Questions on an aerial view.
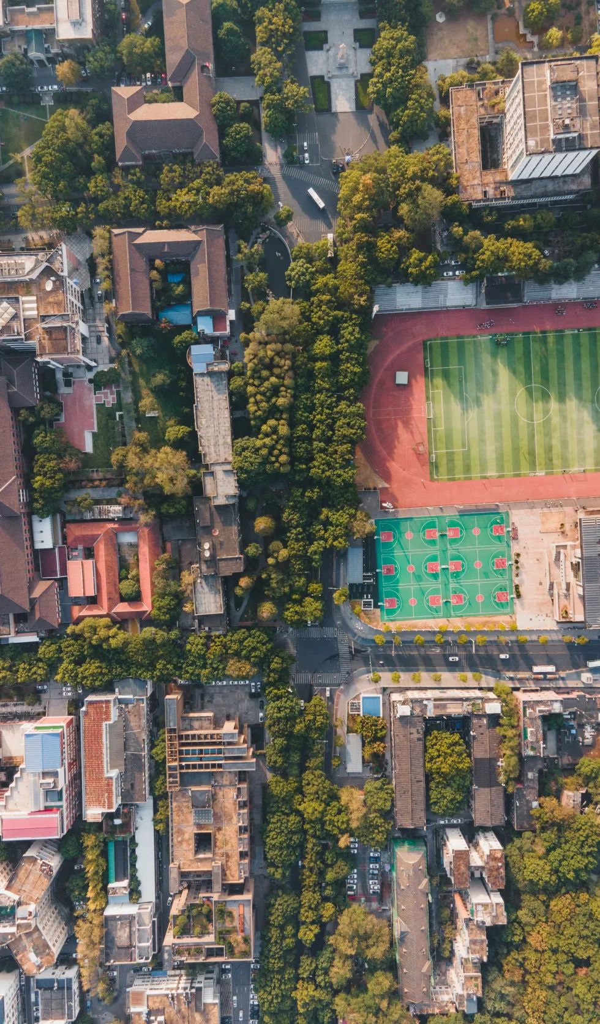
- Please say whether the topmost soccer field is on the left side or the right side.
right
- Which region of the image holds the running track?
right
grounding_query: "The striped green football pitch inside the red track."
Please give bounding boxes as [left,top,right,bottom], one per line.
[422,329,600,481]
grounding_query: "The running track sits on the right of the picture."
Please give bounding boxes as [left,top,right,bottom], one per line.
[353,301,600,509]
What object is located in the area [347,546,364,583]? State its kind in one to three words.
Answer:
shed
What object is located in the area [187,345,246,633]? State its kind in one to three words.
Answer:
building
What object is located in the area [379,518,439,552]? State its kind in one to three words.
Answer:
basketball court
